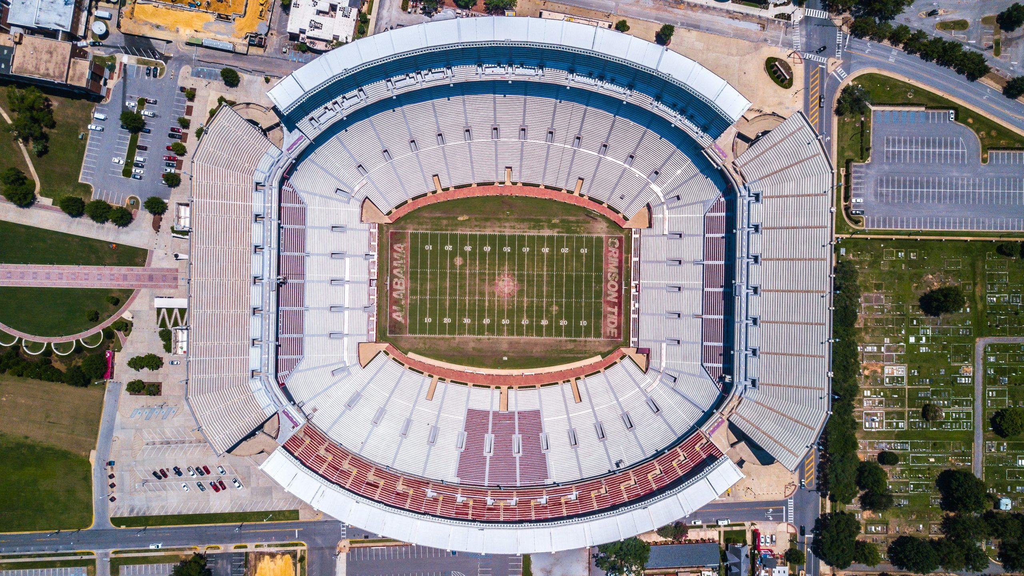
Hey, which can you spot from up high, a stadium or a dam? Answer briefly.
stadium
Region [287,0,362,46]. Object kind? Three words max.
building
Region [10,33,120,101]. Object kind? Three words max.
building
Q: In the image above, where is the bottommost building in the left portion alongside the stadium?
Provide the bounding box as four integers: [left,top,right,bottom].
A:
[171,327,188,356]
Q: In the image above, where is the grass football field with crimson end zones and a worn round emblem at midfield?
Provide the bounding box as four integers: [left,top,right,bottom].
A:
[376,195,631,374]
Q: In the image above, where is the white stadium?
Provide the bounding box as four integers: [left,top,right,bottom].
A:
[187,16,837,555]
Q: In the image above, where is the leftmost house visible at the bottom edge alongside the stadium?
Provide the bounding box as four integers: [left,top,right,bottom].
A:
[645,539,720,576]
